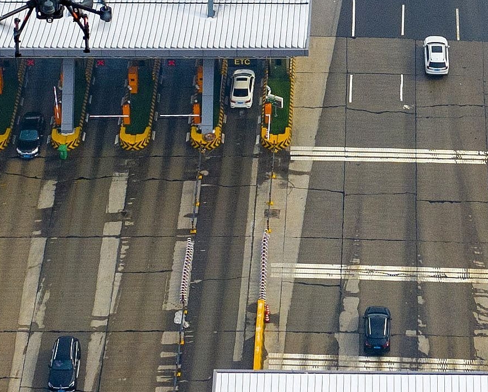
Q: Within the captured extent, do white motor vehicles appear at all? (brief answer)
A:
Yes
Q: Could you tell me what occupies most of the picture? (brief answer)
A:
paved ground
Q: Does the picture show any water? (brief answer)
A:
No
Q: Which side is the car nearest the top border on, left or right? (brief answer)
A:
right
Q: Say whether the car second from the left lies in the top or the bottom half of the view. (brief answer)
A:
bottom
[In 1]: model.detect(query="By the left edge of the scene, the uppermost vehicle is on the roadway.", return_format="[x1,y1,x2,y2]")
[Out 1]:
[16,115,49,157]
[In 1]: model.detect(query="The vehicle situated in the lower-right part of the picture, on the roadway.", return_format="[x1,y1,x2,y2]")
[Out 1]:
[361,304,394,353]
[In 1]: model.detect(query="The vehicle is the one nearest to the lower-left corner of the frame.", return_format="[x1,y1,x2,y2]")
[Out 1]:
[48,338,84,392]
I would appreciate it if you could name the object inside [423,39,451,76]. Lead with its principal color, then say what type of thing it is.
white car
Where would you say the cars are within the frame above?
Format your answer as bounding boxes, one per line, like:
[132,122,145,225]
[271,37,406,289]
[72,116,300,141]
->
[229,69,258,107]
[423,39,451,76]
[48,338,84,392]
[361,304,394,353]
[16,115,49,157]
